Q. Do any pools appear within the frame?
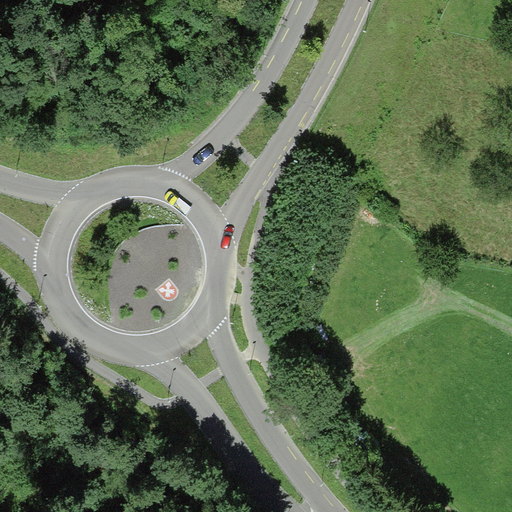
No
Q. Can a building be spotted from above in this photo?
No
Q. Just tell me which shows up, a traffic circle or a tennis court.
traffic circle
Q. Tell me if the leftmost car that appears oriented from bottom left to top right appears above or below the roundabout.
above it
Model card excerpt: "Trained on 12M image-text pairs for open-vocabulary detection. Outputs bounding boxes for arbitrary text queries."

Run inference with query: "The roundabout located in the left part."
[38,166,236,364]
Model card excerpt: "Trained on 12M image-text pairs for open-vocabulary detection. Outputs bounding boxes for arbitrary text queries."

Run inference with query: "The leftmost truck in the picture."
[165,194,192,216]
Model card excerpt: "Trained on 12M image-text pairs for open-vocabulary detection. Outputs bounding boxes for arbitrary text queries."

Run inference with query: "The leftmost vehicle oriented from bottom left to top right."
[193,146,214,165]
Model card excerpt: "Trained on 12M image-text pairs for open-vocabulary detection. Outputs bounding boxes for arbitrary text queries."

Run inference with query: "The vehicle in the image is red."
[221,226,234,249]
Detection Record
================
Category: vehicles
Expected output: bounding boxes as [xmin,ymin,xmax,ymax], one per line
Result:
[165,194,192,216]
[193,146,214,165]
[221,226,234,249]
